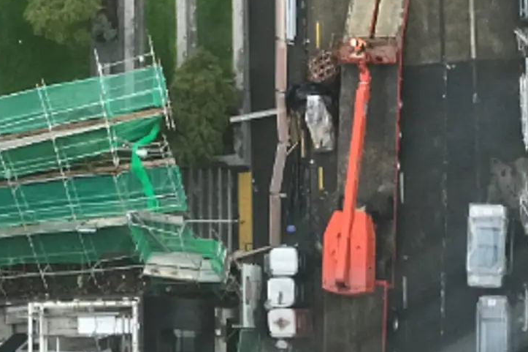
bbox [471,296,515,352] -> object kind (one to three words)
car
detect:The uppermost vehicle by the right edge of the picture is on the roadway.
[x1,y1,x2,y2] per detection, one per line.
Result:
[464,206,512,287]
